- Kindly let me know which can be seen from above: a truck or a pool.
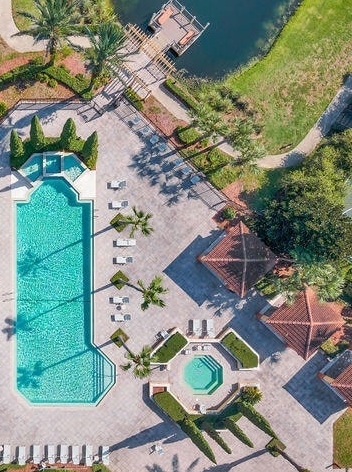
pool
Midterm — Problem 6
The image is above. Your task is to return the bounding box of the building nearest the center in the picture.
[193,219,275,299]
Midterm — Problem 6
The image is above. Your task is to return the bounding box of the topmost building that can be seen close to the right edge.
[255,281,348,364]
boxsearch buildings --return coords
[323,359,352,410]
[255,281,348,364]
[193,219,275,299]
